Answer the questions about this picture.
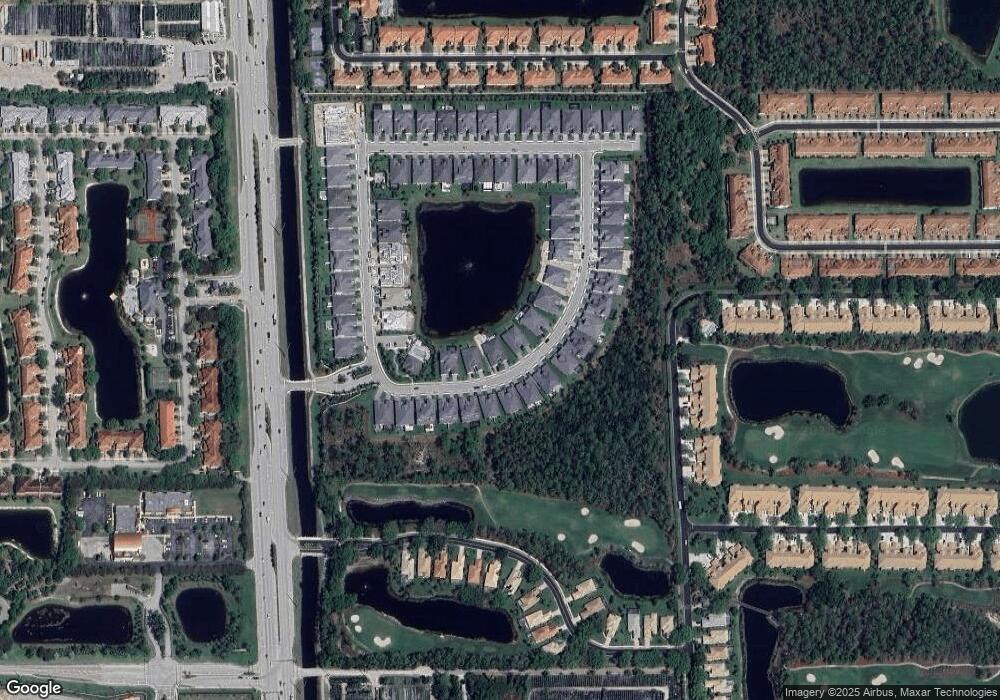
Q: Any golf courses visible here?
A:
Yes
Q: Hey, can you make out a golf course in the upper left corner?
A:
No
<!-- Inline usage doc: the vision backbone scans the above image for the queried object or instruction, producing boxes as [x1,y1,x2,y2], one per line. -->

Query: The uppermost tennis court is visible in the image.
[137,208,166,243]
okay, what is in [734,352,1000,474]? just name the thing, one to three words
golf course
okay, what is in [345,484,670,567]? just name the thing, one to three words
golf course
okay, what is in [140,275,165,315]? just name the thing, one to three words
building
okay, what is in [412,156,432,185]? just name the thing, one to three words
house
